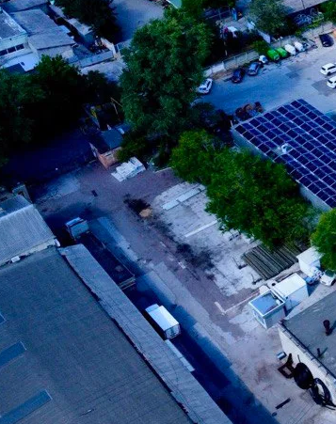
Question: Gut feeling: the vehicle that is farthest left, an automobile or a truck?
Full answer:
Specifically, the vehicle that is farthest left is a truck.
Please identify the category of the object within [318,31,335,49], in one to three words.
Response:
car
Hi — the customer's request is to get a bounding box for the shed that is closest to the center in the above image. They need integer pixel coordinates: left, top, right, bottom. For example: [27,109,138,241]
[89,132,135,179]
